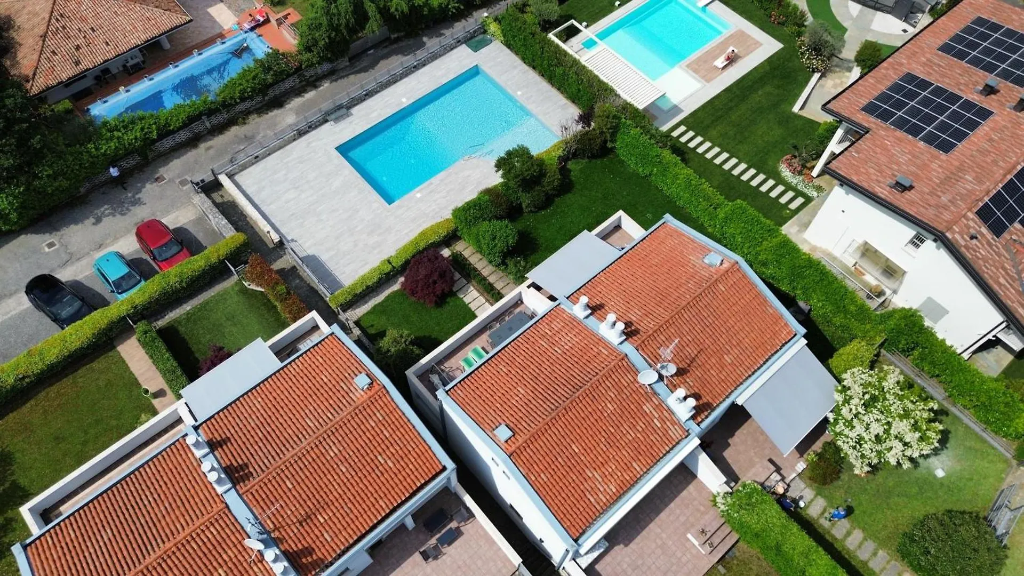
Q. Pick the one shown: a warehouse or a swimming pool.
swimming pool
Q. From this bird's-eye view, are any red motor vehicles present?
Yes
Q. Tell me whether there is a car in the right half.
No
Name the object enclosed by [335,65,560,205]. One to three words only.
swimming pool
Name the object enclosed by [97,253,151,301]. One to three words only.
car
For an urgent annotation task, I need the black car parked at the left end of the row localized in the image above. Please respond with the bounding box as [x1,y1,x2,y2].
[29,274,99,334]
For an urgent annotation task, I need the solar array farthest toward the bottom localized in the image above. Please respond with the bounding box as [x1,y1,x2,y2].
[976,167,1024,261]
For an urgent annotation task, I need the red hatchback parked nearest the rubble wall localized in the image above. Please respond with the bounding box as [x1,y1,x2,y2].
[137,219,193,276]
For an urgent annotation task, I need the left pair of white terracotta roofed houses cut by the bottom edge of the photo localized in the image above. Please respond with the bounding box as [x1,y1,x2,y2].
[12,309,456,576]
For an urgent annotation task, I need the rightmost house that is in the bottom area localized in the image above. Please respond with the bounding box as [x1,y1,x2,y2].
[406,210,805,563]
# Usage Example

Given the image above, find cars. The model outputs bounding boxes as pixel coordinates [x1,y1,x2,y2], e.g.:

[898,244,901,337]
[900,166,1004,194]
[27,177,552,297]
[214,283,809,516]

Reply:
[137,219,193,276]
[29,274,99,334]
[97,253,151,301]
